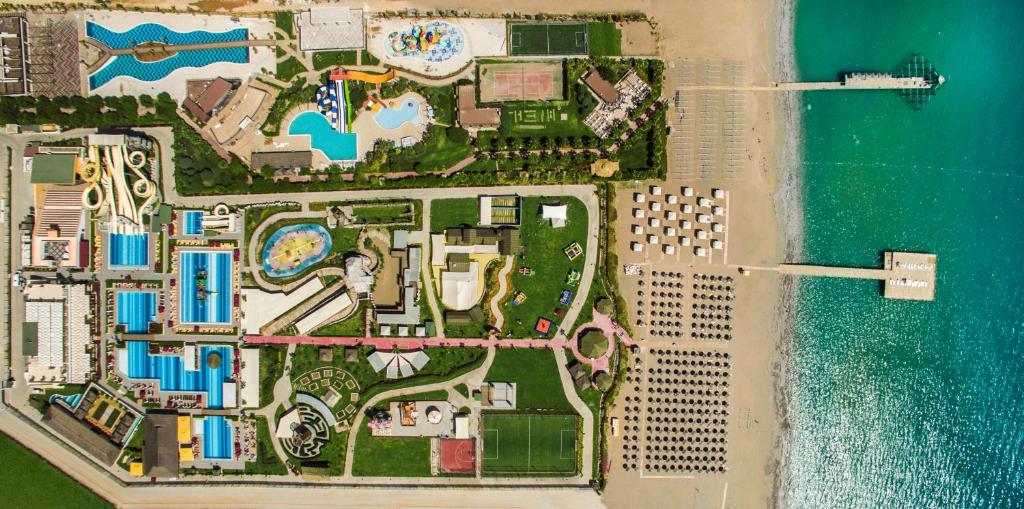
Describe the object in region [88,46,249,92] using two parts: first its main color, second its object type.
blue swimming pool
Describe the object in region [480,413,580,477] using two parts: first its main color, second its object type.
green soccer field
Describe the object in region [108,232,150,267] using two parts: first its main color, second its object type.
blue swimming pool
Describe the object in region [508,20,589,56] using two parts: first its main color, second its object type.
green soccer field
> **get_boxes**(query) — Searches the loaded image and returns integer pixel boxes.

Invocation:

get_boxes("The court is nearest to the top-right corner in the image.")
[480,61,564,101]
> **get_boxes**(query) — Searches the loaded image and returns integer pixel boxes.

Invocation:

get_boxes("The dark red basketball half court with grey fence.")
[440,439,476,475]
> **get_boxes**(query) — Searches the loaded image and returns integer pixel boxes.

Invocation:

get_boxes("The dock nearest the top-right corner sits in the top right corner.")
[762,73,931,91]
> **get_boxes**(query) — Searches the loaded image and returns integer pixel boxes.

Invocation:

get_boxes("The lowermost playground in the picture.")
[400,401,418,426]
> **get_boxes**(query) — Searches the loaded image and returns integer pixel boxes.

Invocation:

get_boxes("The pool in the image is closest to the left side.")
[49,393,83,410]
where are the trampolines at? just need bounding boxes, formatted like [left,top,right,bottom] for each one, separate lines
[534,317,552,335]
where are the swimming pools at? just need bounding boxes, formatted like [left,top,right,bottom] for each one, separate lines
[116,290,158,334]
[184,210,206,237]
[117,340,232,409]
[88,46,249,92]
[121,419,140,445]
[49,393,83,410]
[262,223,333,278]
[178,250,234,325]
[84,18,249,50]
[372,96,422,131]
[286,109,359,162]
[193,414,233,460]
[108,232,150,267]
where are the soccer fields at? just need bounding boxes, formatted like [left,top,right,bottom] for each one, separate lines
[508,20,589,56]
[480,413,580,477]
